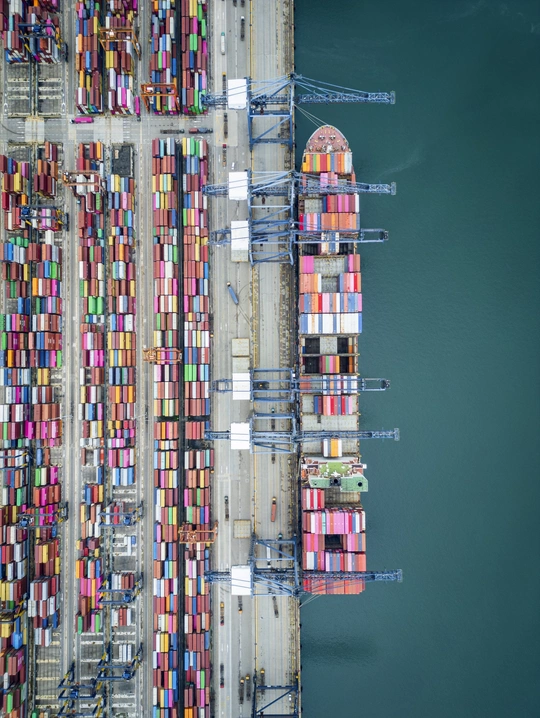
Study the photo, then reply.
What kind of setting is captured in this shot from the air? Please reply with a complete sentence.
What you see here is a port.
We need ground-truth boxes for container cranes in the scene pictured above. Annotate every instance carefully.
[98,642,146,682]
[60,661,105,703]
[59,687,105,718]
[205,532,402,596]
[142,346,190,367]
[203,166,396,228]
[0,447,34,470]
[205,409,400,452]
[179,515,221,544]
[210,218,388,272]
[142,83,187,118]
[248,675,299,718]
[60,171,109,201]
[98,571,146,605]
[99,27,146,67]
[98,499,146,527]
[20,204,71,233]
[209,365,390,403]
[203,69,395,149]
[20,22,72,62]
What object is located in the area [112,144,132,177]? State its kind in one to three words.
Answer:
shed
